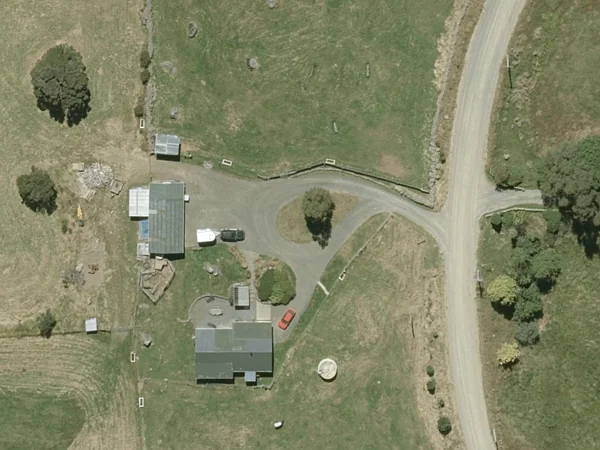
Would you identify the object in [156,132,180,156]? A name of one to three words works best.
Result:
shed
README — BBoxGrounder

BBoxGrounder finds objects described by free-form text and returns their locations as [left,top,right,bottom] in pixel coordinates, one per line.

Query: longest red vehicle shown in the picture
[279,308,296,329]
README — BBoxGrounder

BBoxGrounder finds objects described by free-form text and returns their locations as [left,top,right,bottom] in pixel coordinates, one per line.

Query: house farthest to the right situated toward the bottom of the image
[193,321,272,381]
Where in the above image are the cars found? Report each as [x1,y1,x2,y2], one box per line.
[279,308,296,329]
[220,230,245,241]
